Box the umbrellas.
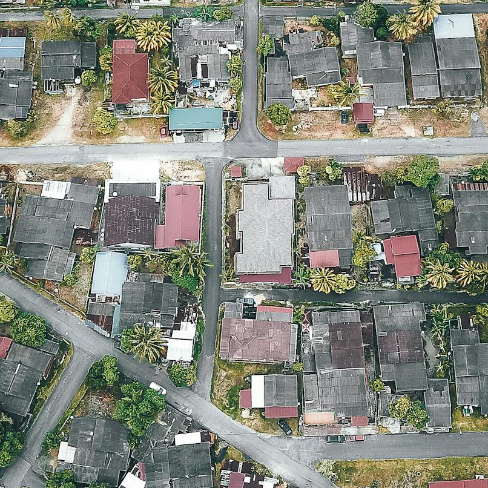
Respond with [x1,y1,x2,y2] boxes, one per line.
[201,86,216,99]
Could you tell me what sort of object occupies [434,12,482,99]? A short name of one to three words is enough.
house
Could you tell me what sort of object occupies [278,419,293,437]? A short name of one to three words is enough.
car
